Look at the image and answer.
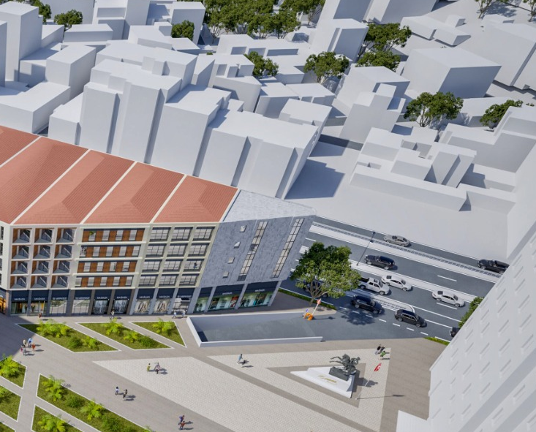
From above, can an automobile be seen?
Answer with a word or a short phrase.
Yes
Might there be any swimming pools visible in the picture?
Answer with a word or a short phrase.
No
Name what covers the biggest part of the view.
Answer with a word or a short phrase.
buildings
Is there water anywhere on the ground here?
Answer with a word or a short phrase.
No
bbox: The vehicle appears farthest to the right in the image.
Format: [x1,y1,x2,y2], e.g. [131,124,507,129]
[478,258,509,272]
